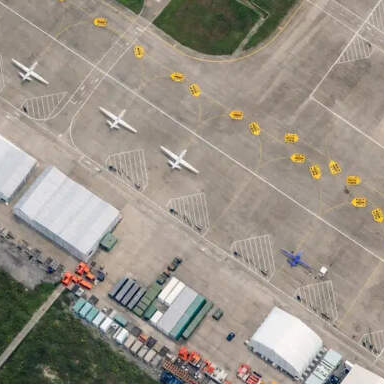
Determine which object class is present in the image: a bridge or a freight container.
freight container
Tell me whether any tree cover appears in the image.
No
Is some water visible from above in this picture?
No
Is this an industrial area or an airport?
airport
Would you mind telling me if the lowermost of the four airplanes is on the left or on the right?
right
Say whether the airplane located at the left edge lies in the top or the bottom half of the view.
top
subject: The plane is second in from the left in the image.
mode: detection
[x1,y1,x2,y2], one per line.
[100,106,136,133]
